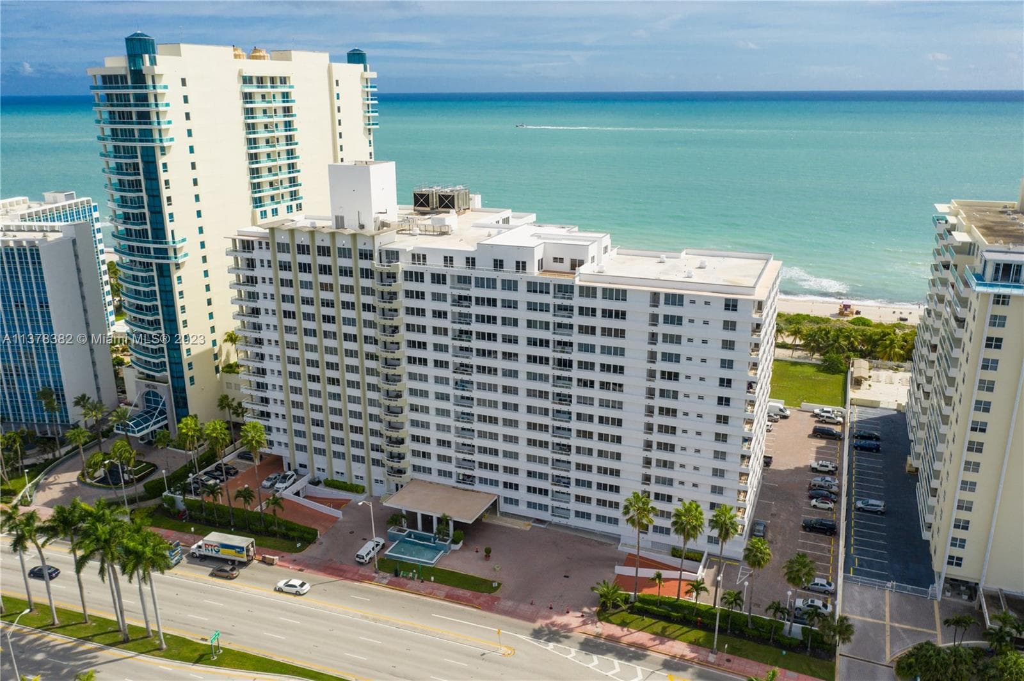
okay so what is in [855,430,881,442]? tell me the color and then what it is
black vehicle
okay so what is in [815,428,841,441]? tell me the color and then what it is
black vehicle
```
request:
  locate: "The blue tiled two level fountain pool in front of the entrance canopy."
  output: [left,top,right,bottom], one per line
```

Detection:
[384,525,456,567]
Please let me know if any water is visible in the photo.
Yes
